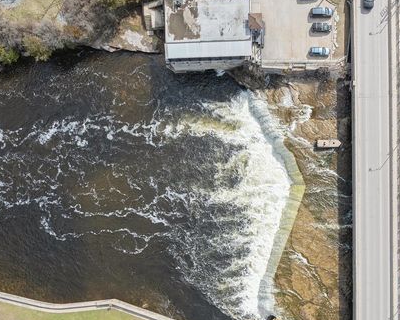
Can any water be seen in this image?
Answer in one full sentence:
Yes, water can be seen from above here.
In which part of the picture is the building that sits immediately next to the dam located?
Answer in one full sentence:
The building that sits immediately next to the dam is located in the top region of the scene.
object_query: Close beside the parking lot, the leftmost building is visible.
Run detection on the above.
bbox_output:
[164,0,253,76]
